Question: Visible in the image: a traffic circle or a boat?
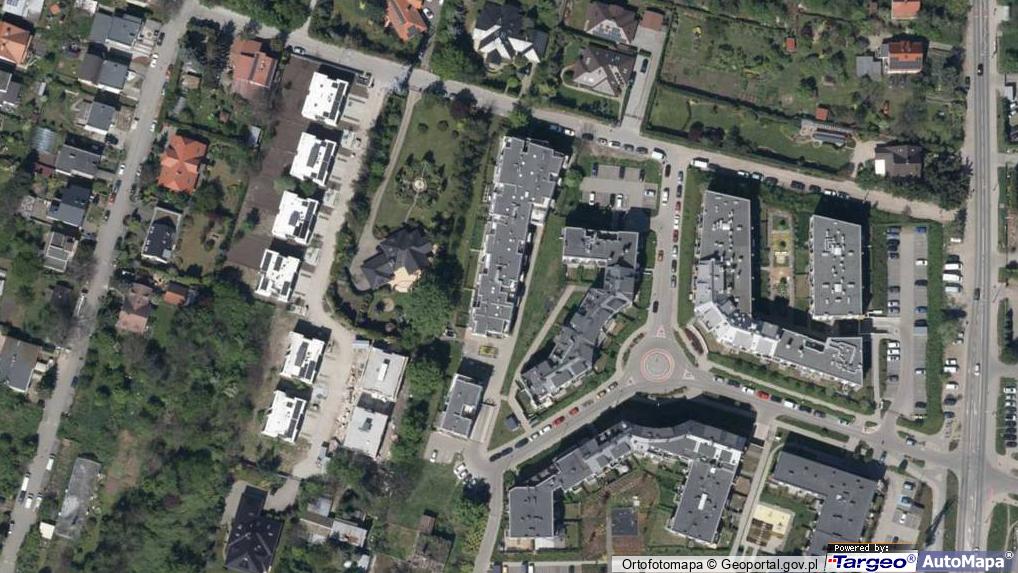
traffic circle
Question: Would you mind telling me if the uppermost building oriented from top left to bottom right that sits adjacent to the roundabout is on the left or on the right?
right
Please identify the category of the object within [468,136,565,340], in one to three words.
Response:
building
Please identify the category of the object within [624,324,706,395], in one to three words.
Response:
roundabout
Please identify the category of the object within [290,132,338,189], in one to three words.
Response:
house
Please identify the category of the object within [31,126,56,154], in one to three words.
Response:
greenhouse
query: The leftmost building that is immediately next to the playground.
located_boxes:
[506,420,746,550]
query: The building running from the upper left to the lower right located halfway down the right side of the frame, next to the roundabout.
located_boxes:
[689,191,862,393]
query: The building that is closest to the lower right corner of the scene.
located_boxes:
[765,452,877,573]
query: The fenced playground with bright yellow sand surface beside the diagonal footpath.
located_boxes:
[745,500,797,550]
